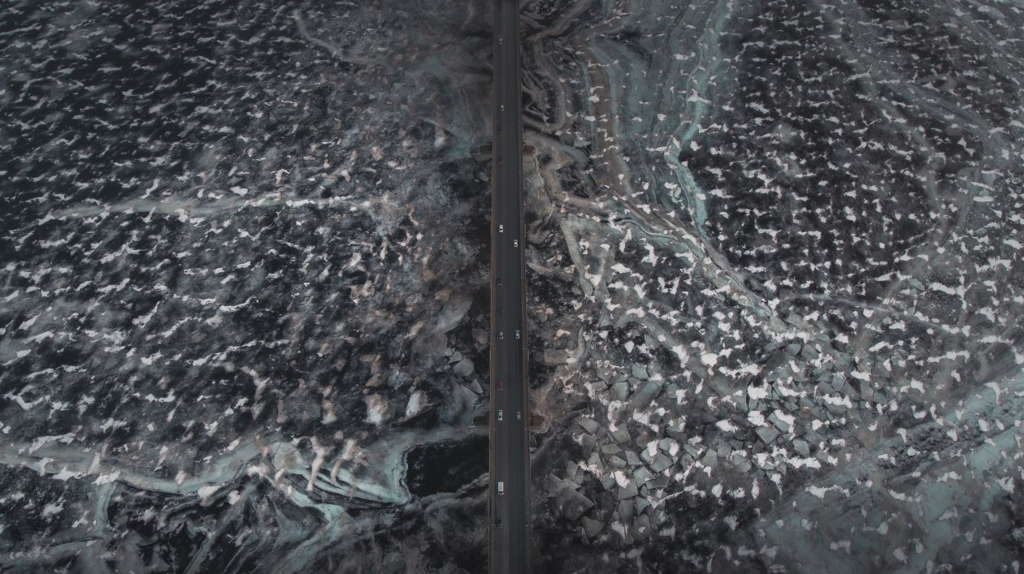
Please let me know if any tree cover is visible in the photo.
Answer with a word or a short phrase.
No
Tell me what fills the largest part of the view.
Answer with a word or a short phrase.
water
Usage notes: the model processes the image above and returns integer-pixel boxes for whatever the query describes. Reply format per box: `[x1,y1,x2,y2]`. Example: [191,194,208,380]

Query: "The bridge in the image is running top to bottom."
[474,0,545,574]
